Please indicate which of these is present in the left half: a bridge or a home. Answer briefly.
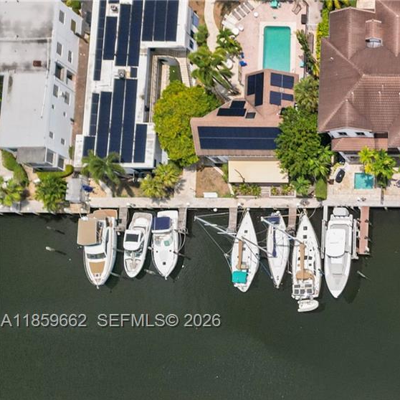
home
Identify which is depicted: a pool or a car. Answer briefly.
pool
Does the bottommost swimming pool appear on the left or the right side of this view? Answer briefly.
right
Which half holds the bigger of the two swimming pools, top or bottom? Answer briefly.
top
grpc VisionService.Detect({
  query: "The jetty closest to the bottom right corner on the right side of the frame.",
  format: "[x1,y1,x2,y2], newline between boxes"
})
[357,207,372,255]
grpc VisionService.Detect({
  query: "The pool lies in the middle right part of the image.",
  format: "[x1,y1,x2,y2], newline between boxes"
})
[352,170,375,190]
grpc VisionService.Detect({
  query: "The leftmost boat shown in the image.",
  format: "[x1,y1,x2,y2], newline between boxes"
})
[77,210,124,289]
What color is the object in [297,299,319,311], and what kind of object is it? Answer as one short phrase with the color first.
white boat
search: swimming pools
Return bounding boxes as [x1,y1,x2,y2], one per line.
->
[352,170,375,190]
[259,21,295,73]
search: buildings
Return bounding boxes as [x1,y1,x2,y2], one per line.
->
[72,0,202,177]
[317,0,400,165]
[0,0,86,176]
[192,68,303,188]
